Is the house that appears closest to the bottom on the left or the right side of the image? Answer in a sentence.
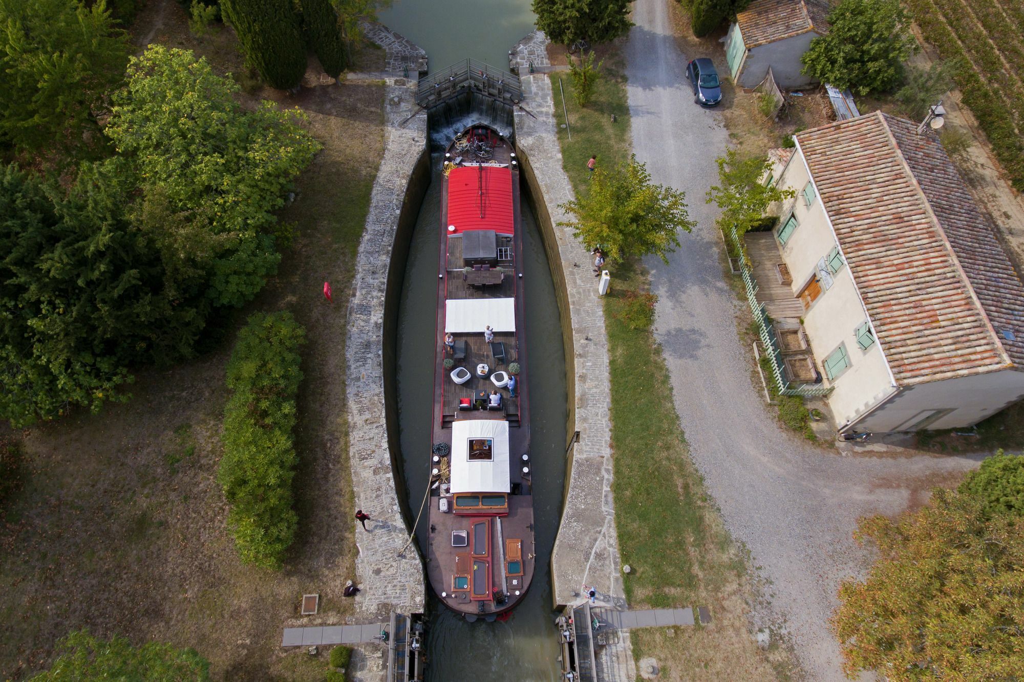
The house that appears closest to the bottom sits on the right side.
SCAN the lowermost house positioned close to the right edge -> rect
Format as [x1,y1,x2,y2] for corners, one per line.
[750,105,1024,430]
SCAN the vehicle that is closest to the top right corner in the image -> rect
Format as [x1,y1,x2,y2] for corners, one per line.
[684,56,724,107]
